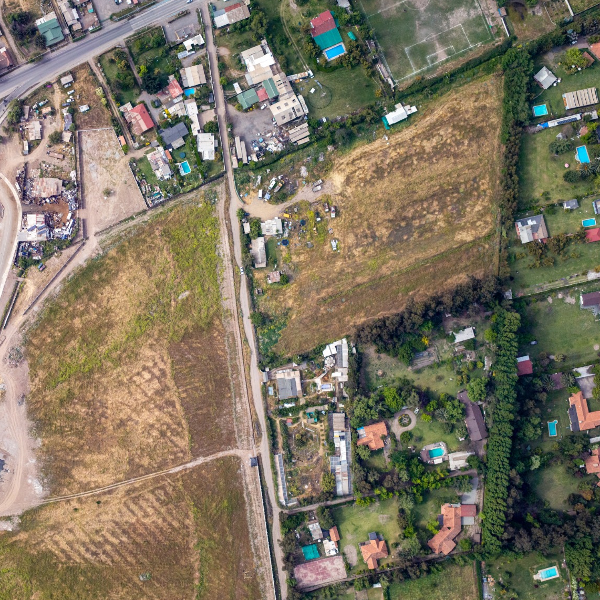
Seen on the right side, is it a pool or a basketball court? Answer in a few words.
pool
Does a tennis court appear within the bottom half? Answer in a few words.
Yes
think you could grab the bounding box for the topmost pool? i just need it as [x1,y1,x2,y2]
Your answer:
[323,42,347,62]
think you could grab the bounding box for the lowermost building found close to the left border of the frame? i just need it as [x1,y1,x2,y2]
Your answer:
[18,214,48,242]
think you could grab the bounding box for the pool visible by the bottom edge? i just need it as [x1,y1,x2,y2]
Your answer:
[538,565,560,581]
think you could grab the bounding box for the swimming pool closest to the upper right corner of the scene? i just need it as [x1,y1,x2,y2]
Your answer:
[533,104,547,117]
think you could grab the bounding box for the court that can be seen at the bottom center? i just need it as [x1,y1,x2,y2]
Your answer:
[293,556,347,591]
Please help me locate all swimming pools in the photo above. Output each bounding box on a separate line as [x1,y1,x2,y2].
[538,565,560,581]
[319,382,334,392]
[581,218,597,227]
[184,87,195,97]
[179,158,192,177]
[549,417,558,436]
[423,442,449,463]
[323,42,347,62]
[533,104,547,117]
[572,146,589,164]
